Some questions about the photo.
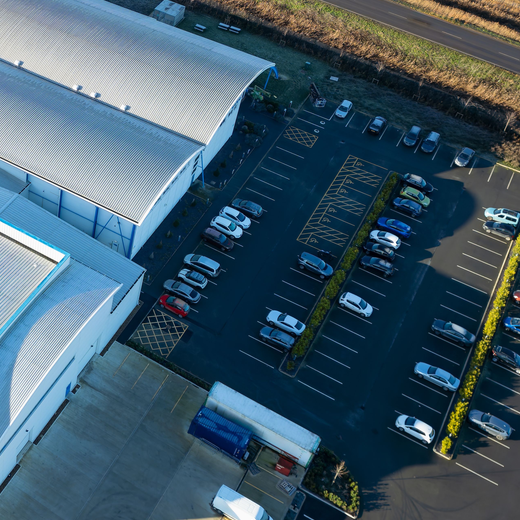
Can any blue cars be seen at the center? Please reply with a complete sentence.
Yes, a blue car appears at the center.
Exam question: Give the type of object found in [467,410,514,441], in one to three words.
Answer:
car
